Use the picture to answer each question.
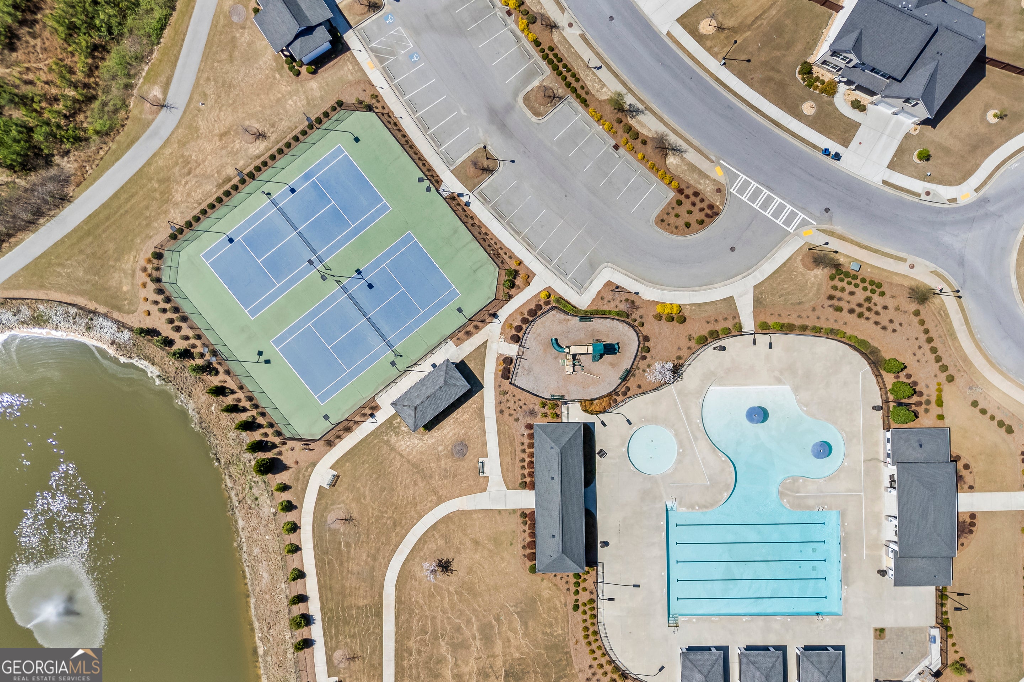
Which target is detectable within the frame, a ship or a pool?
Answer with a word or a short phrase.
pool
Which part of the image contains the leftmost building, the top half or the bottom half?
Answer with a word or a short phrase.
top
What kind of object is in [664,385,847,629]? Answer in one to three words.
swimming pool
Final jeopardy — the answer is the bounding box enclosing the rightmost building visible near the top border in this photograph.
[813,0,985,125]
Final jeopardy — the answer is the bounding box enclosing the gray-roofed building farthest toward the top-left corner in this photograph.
[245,0,334,65]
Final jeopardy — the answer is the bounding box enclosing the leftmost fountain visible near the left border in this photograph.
[0,541,110,673]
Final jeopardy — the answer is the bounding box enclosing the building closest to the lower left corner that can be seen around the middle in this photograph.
[390,358,471,433]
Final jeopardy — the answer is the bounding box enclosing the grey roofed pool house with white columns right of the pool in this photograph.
[883,428,957,587]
